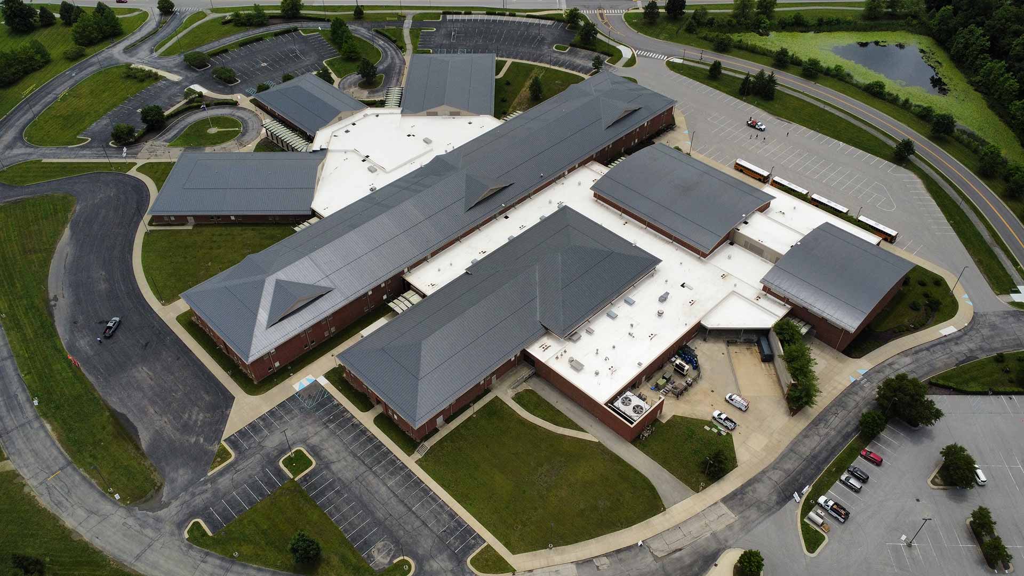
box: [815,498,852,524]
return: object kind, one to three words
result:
truck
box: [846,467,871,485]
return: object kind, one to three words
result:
car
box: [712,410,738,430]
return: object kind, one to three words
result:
vehicle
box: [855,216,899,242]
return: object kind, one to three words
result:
bus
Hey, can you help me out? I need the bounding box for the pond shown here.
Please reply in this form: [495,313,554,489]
[834,42,942,95]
